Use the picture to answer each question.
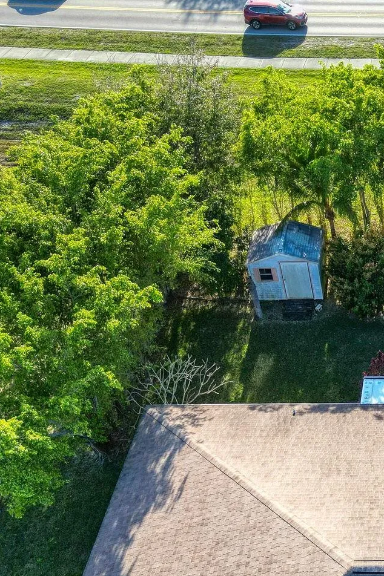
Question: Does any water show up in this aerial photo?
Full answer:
No, the picture contains no water.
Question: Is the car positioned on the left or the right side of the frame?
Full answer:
The car appears in the right half of the scene.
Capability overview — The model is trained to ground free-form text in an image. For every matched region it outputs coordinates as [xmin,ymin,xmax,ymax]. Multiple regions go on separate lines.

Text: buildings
[247,217,328,305]
[80,405,384,576]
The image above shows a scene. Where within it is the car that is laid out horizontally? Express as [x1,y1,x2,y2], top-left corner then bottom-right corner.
[241,0,308,28]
